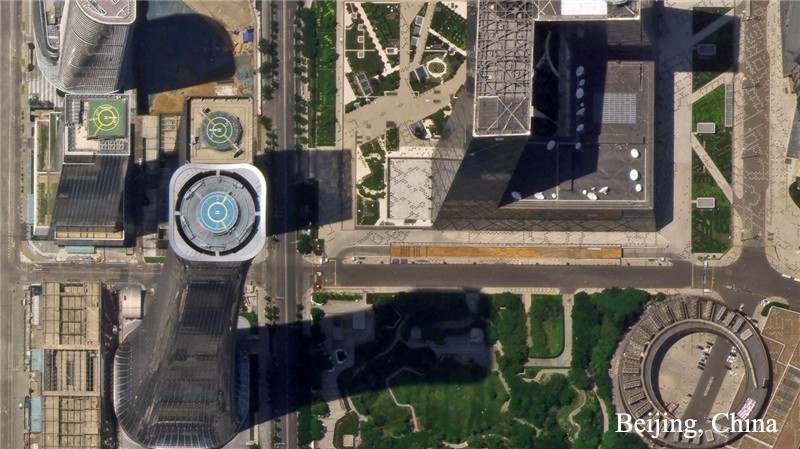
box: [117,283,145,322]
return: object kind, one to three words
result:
building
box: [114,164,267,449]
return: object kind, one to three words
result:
building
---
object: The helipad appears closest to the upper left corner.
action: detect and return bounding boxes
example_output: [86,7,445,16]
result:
[87,97,127,138]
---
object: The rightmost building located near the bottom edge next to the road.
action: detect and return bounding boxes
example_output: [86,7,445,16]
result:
[616,296,771,449]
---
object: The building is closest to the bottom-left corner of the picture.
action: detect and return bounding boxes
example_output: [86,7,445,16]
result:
[41,283,102,449]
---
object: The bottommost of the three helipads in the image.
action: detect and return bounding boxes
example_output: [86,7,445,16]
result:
[199,194,237,231]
